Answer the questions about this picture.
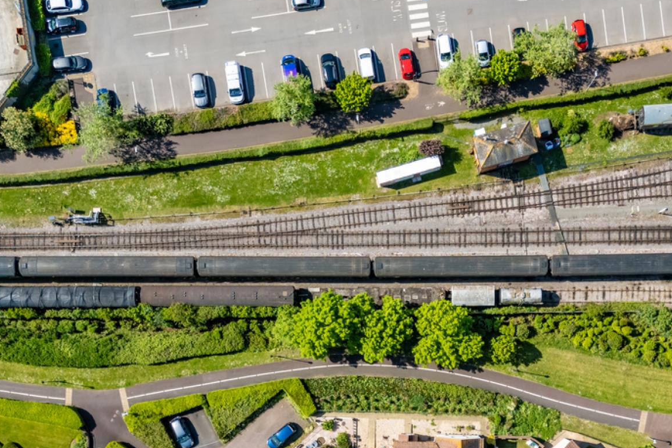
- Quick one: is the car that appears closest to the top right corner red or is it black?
red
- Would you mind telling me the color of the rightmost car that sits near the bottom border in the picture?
blue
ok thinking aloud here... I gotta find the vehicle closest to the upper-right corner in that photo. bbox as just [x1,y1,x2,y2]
[570,17,591,52]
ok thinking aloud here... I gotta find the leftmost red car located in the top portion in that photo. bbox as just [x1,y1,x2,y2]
[396,46,416,80]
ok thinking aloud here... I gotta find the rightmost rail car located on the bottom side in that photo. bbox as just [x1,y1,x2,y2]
[497,286,542,305]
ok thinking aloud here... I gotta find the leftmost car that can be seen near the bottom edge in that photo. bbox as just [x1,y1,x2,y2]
[168,415,194,448]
